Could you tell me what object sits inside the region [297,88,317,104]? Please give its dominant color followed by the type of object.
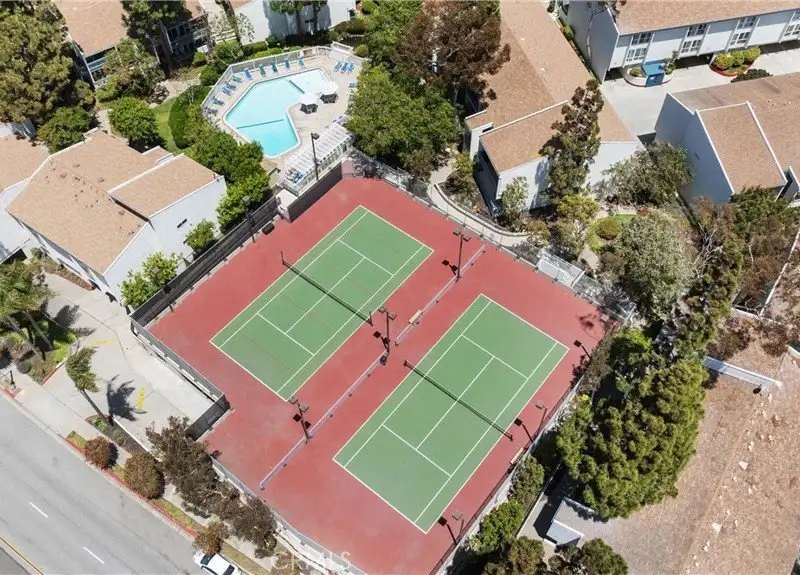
white umbrella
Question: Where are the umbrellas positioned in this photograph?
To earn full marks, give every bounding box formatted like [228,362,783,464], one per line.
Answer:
[316,79,339,94]
[297,88,317,104]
